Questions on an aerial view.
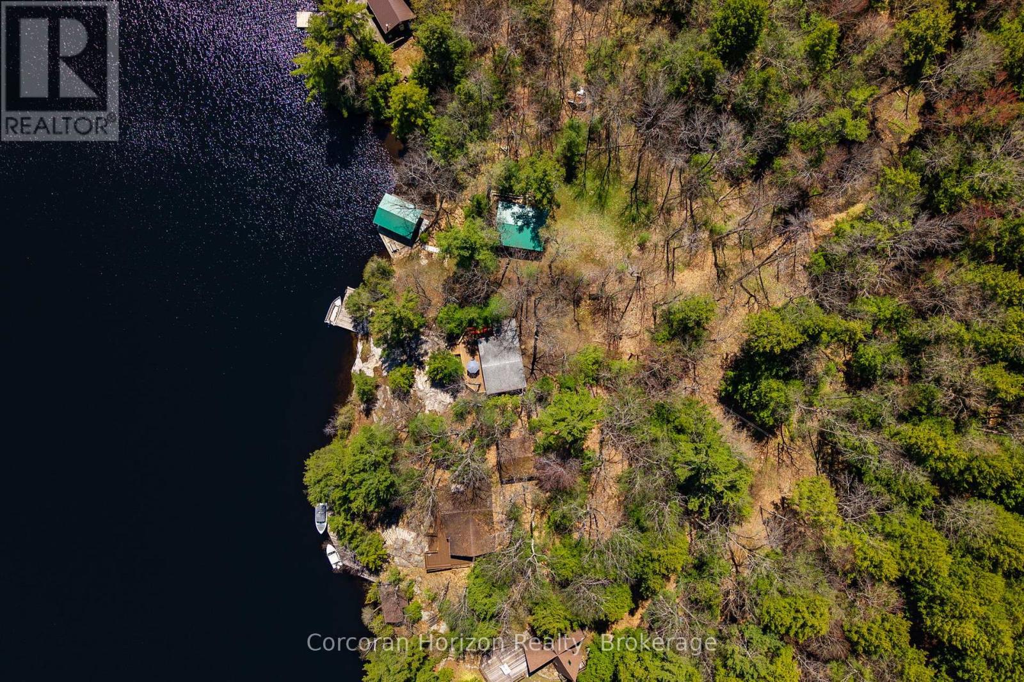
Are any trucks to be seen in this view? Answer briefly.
No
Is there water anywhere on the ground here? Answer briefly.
Yes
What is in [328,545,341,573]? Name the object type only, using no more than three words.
boat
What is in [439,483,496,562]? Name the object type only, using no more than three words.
house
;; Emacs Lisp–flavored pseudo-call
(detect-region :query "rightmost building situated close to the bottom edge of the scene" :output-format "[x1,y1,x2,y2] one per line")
[522,620,585,682]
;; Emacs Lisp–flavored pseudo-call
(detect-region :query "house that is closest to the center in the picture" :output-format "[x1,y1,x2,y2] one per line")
[478,319,526,394]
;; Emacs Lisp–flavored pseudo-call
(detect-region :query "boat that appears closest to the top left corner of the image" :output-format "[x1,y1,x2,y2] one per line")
[324,298,338,326]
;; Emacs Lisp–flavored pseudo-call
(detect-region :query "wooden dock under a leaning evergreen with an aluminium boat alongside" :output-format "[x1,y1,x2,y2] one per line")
[337,287,370,334]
